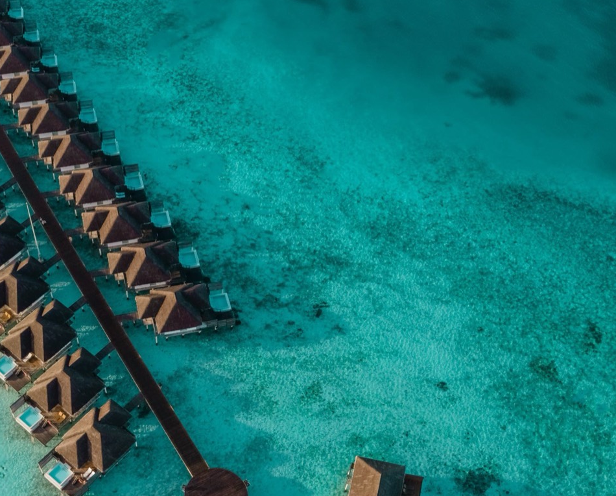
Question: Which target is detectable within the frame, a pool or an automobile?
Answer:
pool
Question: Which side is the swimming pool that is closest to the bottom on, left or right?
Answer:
left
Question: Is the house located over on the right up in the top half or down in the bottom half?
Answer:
bottom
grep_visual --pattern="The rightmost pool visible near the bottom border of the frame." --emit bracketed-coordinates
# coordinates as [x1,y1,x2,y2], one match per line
[43,463,75,496]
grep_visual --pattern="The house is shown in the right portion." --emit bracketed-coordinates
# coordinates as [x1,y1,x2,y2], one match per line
[346,456,421,496]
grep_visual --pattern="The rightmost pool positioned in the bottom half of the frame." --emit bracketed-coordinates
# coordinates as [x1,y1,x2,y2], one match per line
[207,292,229,313]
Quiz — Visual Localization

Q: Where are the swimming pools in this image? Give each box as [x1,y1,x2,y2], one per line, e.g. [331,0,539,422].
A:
[5,8,21,20]
[207,292,229,313]
[15,406,47,436]
[0,353,19,381]
[148,210,168,229]
[123,174,142,192]
[176,250,197,270]
[98,141,118,157]
[21,30,37,44]
[57,81,74,96]
[43,463,75,496]
[77,111,94,126]
[37,55,55,69]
